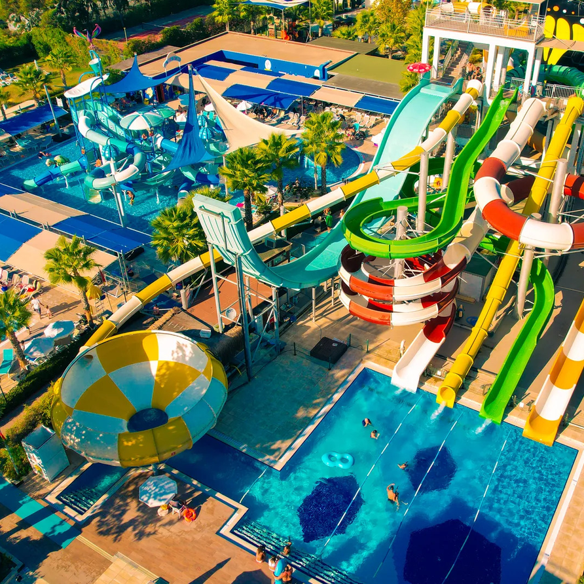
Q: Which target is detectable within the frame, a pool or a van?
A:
pool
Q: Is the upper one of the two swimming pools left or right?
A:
left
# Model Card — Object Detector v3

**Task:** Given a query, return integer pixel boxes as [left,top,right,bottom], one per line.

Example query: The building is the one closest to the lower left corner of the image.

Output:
[23,420,82,484]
